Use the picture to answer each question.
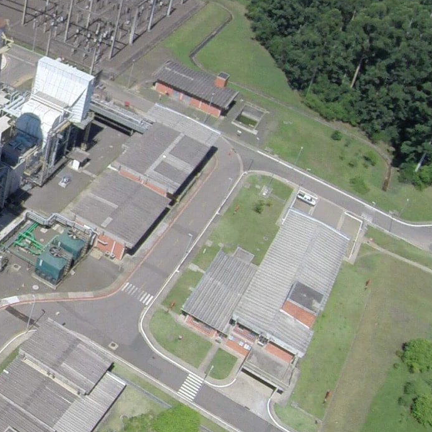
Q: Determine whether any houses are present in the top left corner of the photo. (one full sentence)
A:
Yes, you'll find a house in the top left corner of the photo.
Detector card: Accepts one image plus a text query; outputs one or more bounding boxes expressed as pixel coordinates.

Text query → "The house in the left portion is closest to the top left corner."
[18,55,99,141]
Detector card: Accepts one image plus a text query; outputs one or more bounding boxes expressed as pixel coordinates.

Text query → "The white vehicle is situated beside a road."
[297,191,320,204]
